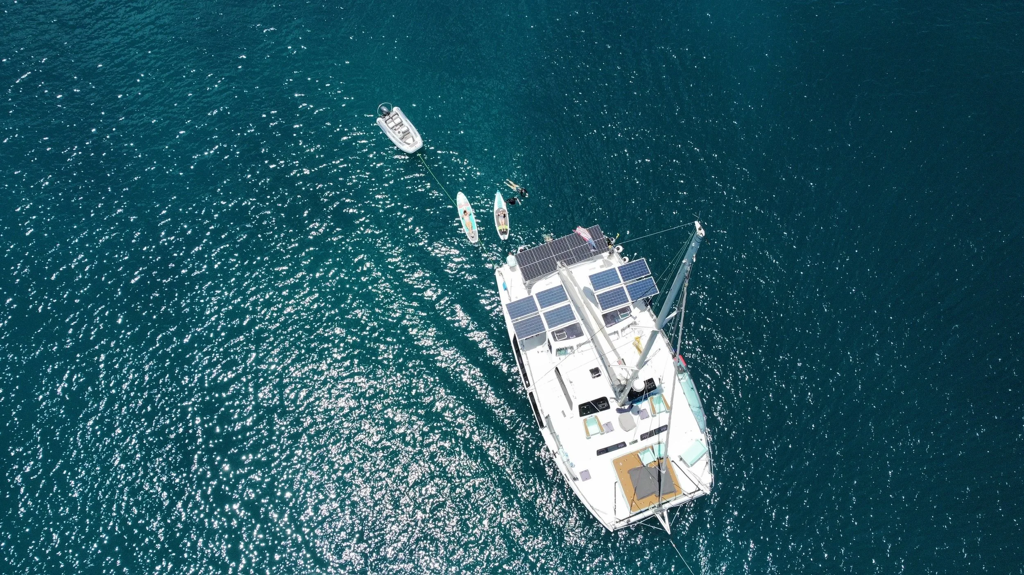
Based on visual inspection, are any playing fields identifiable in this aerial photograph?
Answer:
No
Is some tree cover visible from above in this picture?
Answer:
No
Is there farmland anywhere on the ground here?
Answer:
No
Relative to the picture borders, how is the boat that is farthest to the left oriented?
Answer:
at an angle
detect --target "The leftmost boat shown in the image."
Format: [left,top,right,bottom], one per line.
[377,103,421,151]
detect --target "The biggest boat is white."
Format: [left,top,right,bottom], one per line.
[497,204,714,536]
